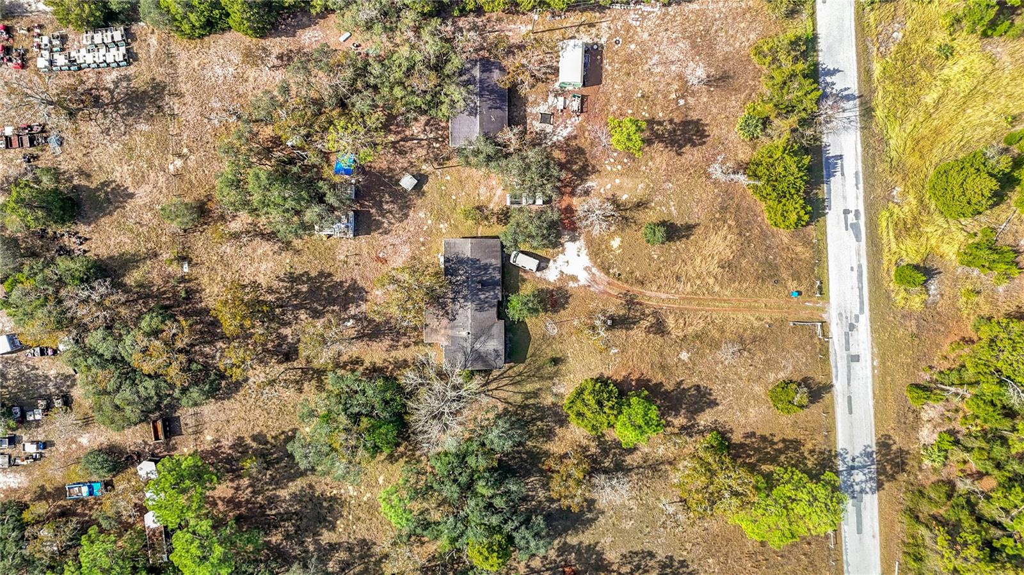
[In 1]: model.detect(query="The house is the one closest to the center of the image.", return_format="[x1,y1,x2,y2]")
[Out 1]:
[424,238,505,370]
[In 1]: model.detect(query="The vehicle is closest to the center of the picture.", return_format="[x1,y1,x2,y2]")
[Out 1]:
[509,252,541,272]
